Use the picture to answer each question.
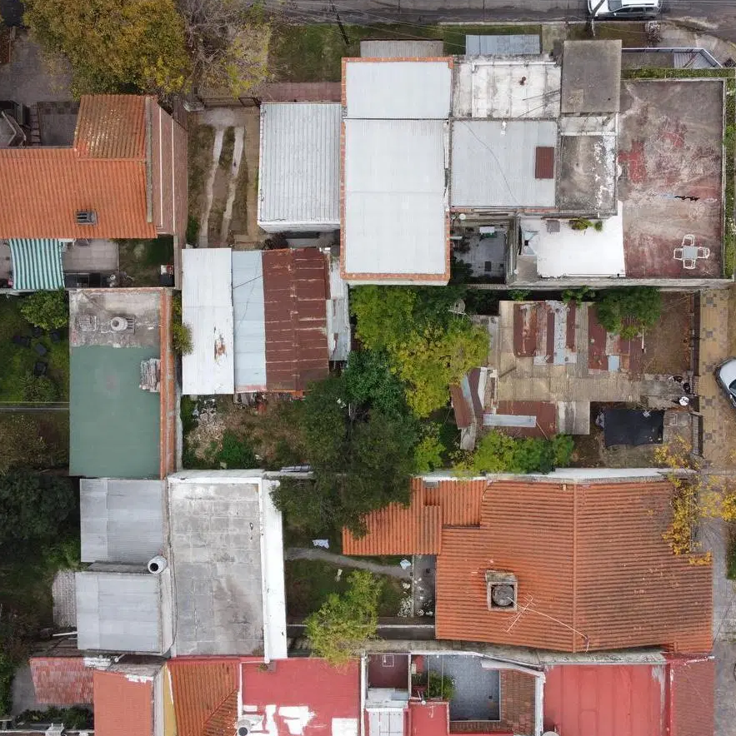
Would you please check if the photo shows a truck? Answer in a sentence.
No, there is no truck in the image.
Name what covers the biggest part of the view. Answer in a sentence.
The largest share of the image is taken up by buildings.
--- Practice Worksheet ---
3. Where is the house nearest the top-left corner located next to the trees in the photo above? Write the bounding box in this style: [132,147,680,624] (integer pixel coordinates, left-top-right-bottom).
[0,94,187,252]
